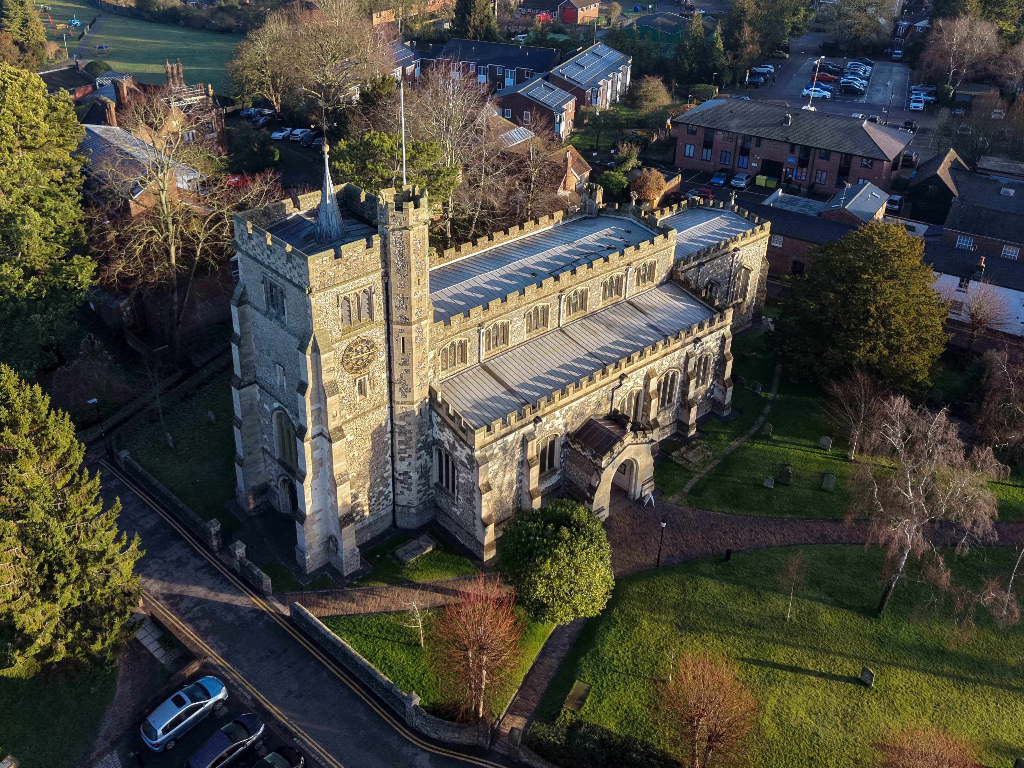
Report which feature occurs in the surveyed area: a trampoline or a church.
church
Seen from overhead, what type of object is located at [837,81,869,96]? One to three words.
car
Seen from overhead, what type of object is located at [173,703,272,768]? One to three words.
car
